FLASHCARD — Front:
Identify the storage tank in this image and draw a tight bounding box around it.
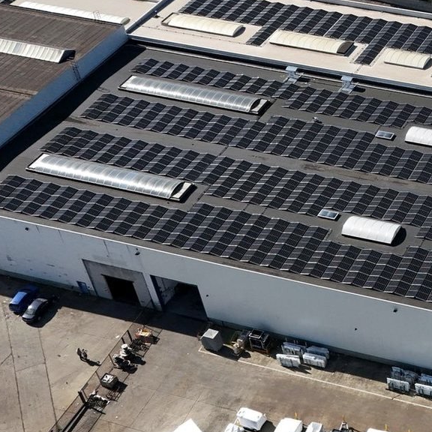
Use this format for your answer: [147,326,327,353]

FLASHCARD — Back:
[199,328,227,357]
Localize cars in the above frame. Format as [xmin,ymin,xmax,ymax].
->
[15,293,55,327]
[1,282,41,315]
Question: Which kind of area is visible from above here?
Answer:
industrial area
